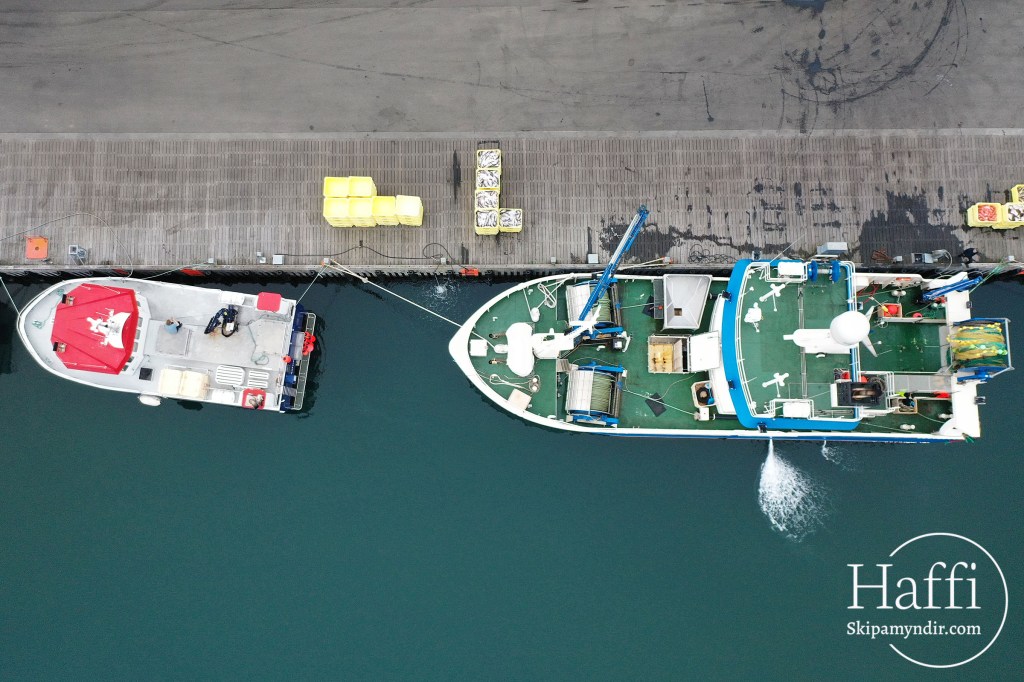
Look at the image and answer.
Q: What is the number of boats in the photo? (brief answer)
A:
2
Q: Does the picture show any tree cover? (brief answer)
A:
No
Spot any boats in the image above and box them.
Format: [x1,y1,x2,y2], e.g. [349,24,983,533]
[16,275,317,413]
[448,199,1015,441]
